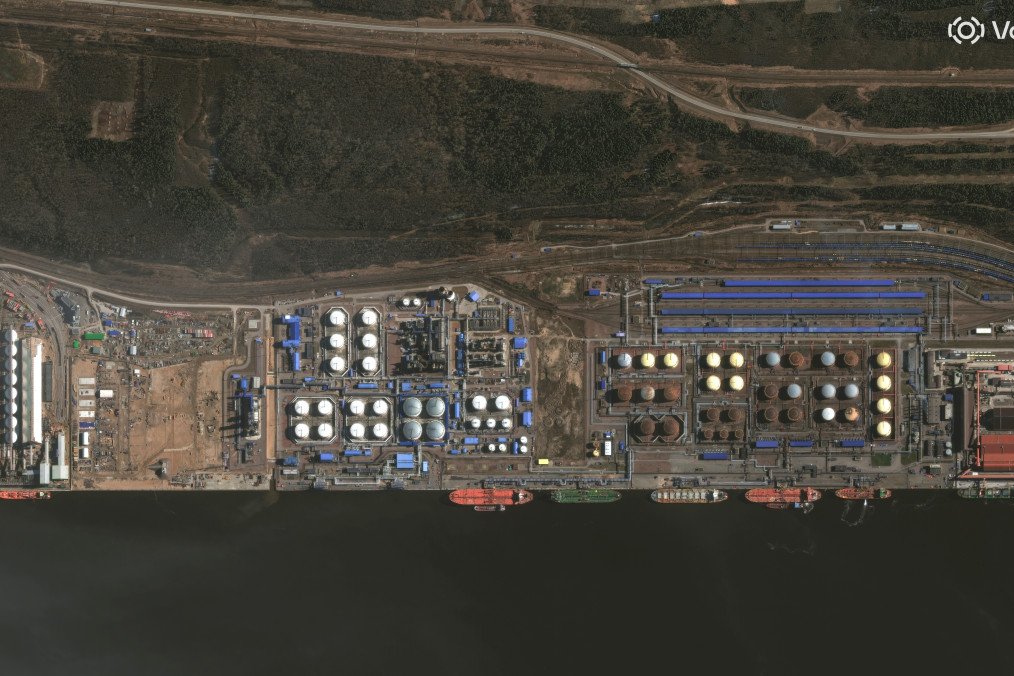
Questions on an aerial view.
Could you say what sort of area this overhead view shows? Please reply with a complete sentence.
It's a port.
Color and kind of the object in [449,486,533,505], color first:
red ship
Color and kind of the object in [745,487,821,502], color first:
red ship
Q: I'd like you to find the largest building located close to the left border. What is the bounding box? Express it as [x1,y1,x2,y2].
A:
[22,338,42,443]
